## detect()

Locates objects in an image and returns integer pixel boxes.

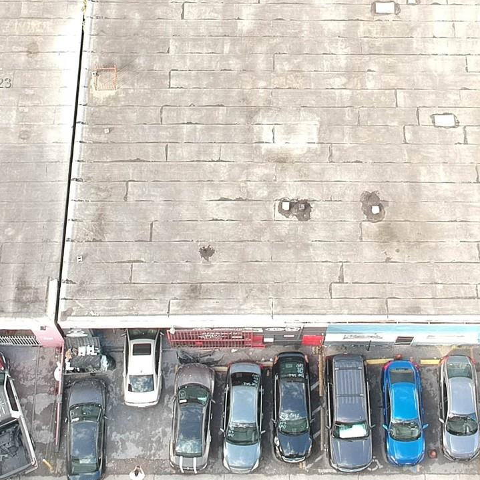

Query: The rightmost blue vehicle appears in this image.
[380,361,430,470]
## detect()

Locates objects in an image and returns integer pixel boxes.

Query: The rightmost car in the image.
[435,357,480,464]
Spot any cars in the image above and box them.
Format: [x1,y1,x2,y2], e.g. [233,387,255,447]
[268,353,317,466]
[166,364,217,476]
[58,378,110,480]
[435,357,480,464]
[322,355,376,475]
[218,364,267,476]
[119,333,164,408]
[380,361,430,470]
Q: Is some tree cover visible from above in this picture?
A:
No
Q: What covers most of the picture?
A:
buildings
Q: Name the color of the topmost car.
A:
white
